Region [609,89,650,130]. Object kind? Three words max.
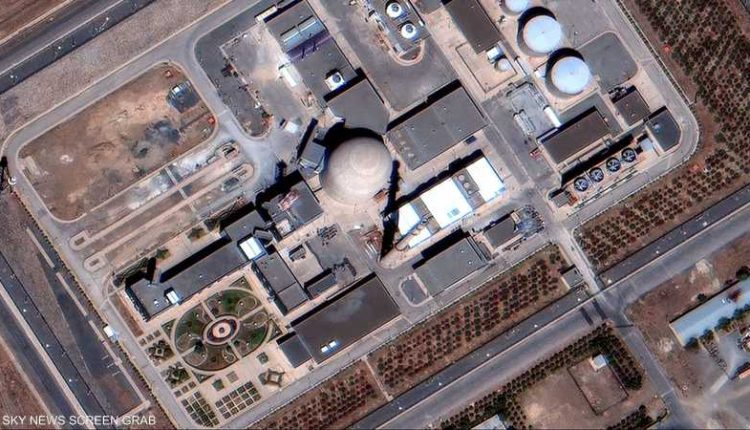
building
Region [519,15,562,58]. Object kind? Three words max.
storage tank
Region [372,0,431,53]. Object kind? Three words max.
house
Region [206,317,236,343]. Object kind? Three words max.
fountain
